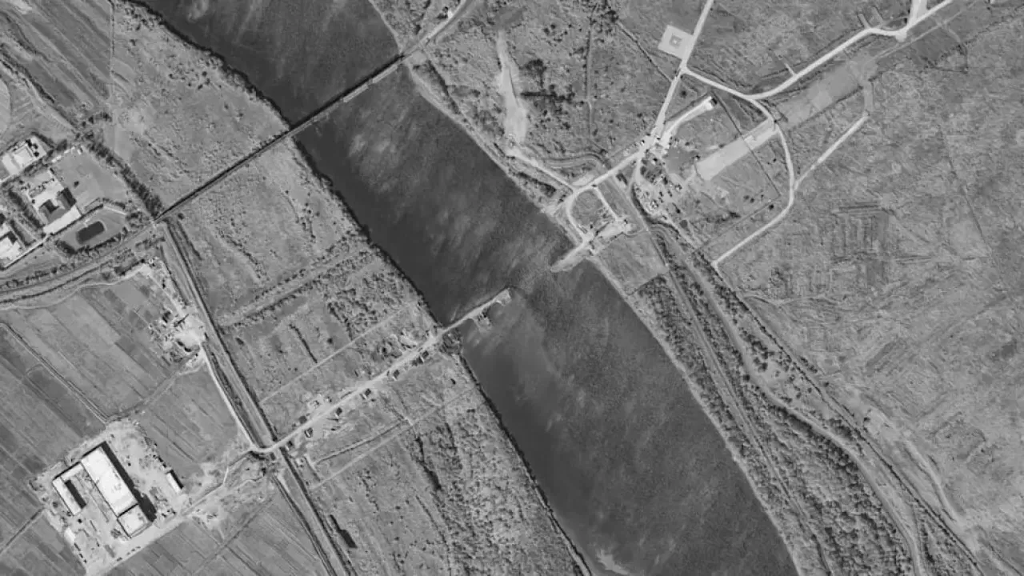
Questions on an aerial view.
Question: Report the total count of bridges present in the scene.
1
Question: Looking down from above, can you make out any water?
Yes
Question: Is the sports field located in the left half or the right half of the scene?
left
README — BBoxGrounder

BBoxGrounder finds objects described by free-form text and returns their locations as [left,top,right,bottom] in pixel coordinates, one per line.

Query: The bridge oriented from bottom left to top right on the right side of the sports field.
[157,39,439,220]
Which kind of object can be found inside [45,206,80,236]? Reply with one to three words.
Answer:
building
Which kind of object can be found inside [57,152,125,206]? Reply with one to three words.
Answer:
sports field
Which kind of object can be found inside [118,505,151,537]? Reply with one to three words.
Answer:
building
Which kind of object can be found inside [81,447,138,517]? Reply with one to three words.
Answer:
shed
